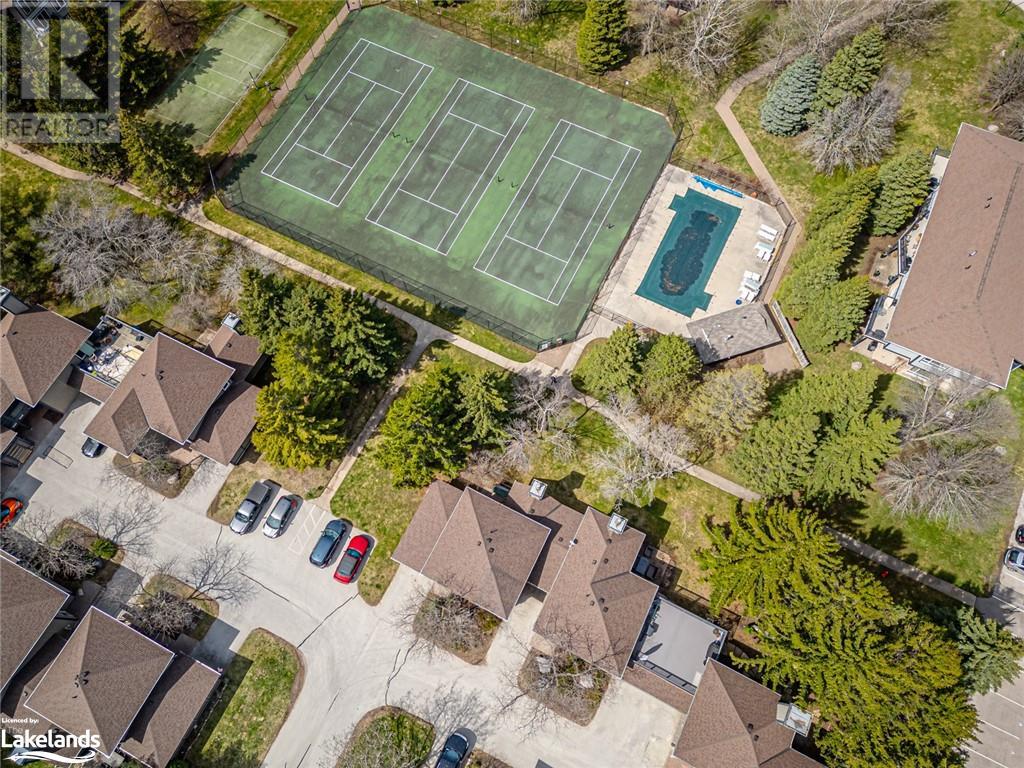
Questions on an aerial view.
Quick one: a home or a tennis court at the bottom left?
home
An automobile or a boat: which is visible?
automobile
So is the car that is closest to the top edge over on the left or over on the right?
left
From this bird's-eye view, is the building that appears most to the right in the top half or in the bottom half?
top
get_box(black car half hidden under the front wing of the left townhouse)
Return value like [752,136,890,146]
[79,435,103,458]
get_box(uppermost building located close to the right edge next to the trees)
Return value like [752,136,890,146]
[874,122,1024,394]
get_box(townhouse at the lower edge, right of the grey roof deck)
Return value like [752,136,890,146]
[664,657,827,768]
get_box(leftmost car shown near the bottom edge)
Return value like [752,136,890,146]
[432,725,470,768]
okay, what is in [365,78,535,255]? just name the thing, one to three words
tennis court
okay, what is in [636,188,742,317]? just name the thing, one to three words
swimming pool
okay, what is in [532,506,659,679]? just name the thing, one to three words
house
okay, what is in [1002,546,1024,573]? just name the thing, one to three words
car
